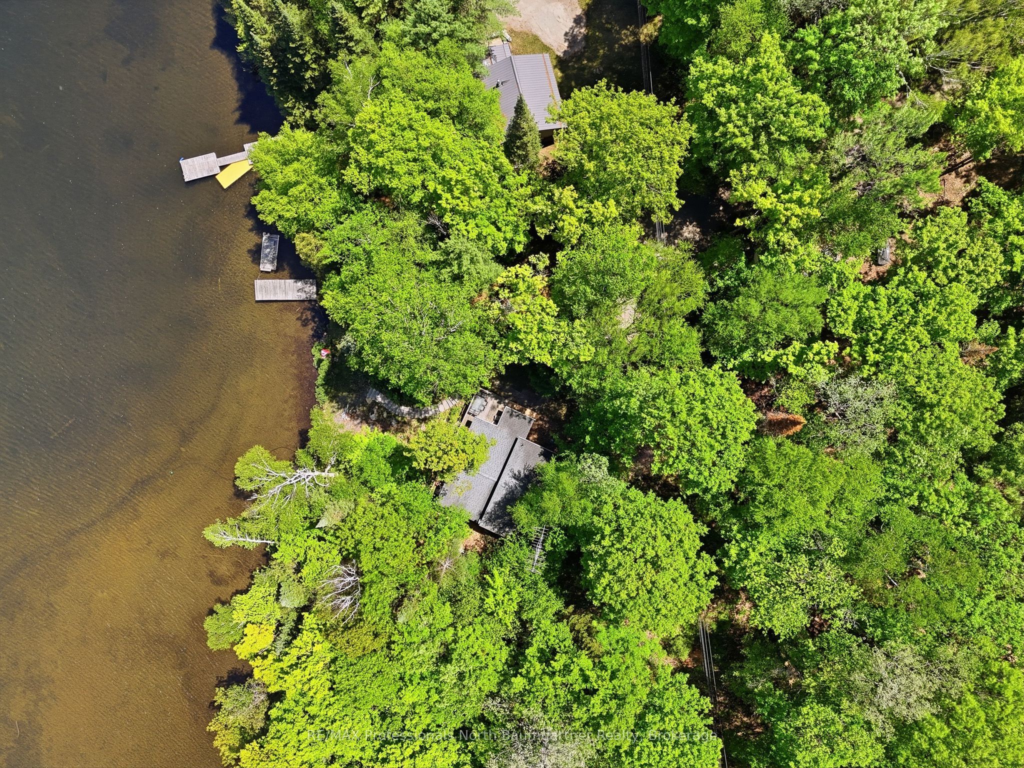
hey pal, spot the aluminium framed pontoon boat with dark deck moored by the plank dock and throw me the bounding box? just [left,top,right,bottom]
[258,231,280,272]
